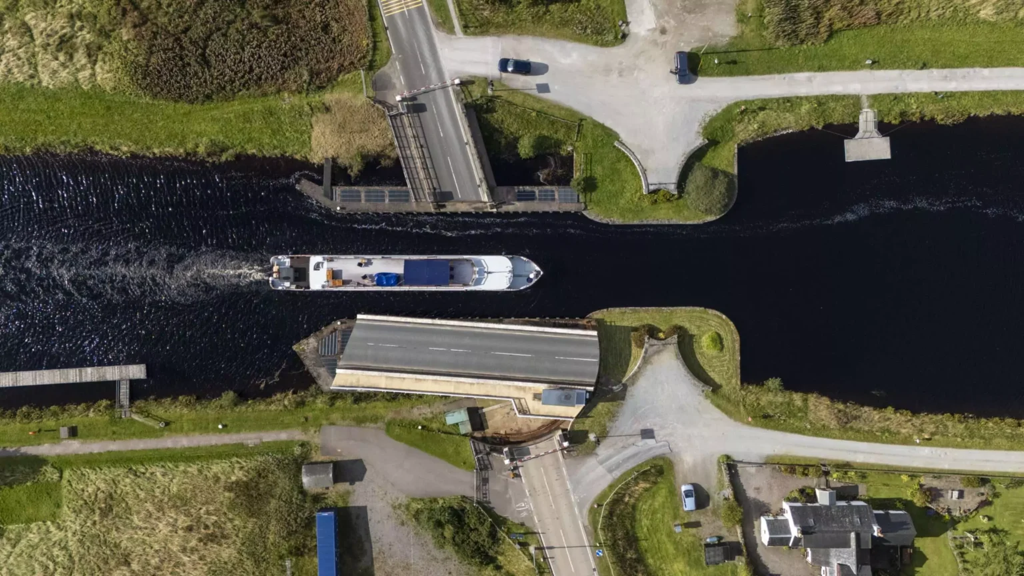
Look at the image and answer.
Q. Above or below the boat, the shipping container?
below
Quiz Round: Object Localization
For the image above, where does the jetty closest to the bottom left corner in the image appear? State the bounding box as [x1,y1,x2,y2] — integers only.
[0,364,147,417]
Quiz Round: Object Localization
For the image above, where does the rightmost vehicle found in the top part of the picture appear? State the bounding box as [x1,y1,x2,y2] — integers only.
[670,50,692,85]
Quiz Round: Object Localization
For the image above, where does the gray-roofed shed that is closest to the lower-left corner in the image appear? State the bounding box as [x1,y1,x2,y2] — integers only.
[303,458,337,490]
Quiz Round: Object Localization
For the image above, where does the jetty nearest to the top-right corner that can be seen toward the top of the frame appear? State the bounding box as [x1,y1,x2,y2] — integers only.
[824,108,912,162]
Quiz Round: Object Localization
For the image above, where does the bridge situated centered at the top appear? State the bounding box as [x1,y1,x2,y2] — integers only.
[372,97,499,203]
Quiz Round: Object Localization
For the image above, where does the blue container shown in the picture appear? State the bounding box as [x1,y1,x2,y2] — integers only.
[317,505,343,576]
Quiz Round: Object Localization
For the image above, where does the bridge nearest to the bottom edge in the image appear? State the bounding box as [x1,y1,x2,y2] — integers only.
[331,314,600,421]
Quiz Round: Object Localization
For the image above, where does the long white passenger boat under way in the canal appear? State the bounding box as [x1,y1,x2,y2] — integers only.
[269,252,543,292]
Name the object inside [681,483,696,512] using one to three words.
car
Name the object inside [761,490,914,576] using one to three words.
house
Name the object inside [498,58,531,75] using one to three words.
car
